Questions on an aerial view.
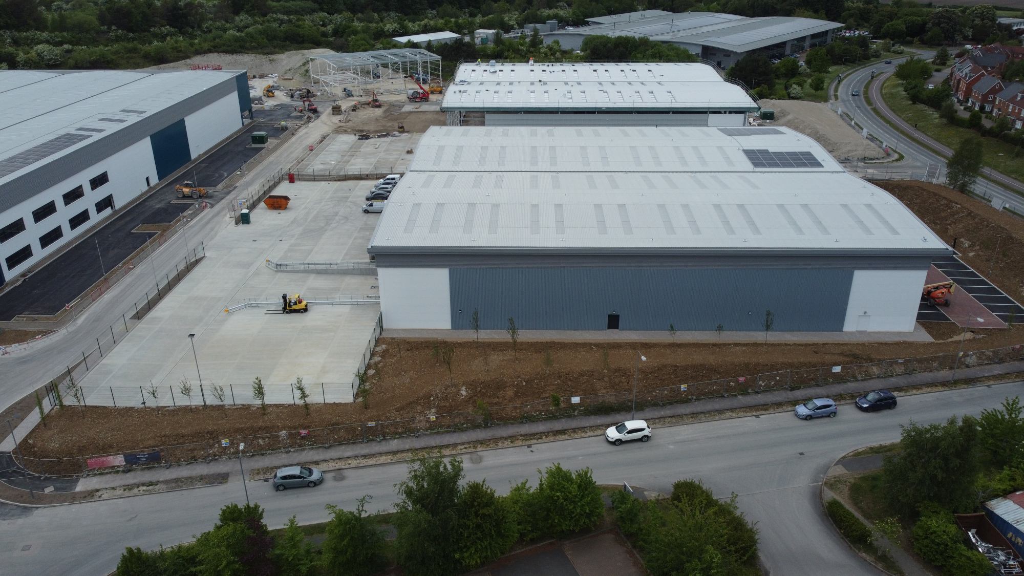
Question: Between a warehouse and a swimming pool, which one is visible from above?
warehouse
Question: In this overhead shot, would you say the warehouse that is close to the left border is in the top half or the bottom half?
top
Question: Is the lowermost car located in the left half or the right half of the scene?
left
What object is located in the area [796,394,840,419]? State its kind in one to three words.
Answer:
car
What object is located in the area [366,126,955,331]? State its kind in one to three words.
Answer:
warehouse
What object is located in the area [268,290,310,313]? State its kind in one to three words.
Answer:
work vehicle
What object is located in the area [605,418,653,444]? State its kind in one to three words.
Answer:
car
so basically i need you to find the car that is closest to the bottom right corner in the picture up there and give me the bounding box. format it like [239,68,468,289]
[856,387,899,411]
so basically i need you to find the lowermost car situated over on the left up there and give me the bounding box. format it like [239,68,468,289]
[270,464,321,491]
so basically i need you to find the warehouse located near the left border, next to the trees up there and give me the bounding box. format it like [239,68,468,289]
[0,64,262,286]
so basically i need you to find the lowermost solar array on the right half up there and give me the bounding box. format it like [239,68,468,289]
[738,149,823,167]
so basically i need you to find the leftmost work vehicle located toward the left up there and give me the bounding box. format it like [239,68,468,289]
[175,181,209,199]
